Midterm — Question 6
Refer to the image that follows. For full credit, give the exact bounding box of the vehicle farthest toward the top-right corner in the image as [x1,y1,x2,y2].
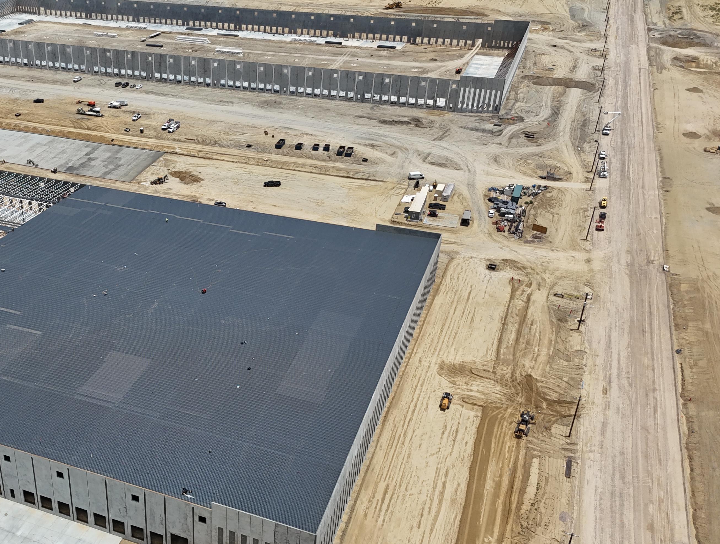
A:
[603,111,621,132]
